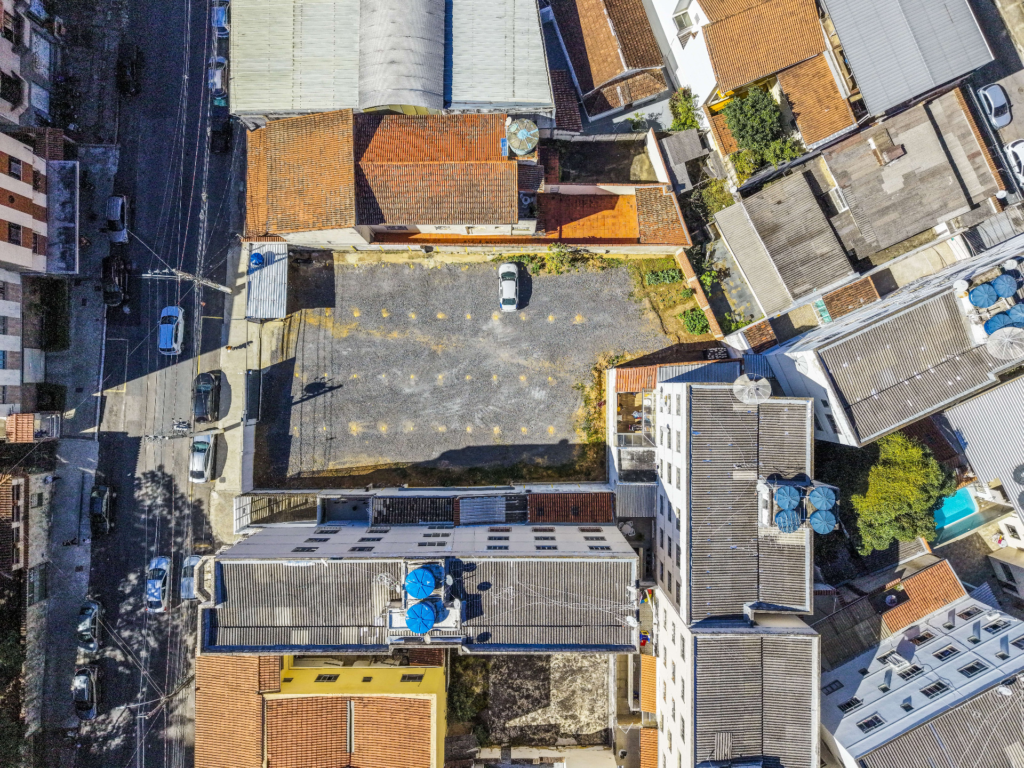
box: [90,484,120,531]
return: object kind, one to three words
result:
car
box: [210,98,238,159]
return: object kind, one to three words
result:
truck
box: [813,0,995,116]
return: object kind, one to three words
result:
warehouse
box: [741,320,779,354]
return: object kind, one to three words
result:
shed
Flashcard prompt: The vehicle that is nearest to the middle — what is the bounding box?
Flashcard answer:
[497,263,520,312]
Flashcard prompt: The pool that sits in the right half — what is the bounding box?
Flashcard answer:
[923,487,983,541]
